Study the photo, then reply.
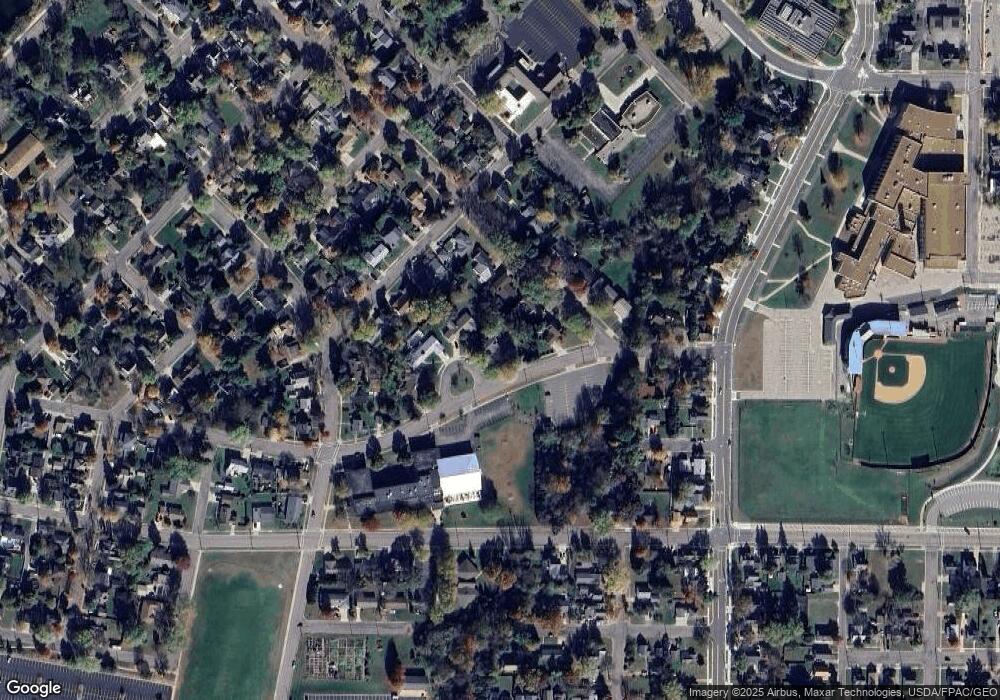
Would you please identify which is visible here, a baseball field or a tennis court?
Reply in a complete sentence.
Visible in the photo is a baseball field.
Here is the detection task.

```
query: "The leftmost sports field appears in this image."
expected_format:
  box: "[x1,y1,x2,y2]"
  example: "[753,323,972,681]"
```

[175,551,302,700]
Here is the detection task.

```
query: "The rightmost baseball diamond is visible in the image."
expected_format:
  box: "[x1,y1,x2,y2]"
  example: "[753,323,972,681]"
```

[854,334,992,470]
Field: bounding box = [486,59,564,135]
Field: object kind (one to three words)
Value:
building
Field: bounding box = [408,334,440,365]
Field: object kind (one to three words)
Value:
house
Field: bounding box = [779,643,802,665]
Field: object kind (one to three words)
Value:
house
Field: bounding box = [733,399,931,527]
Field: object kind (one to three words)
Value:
sports field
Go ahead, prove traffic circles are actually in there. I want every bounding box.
[440,356,482,405]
